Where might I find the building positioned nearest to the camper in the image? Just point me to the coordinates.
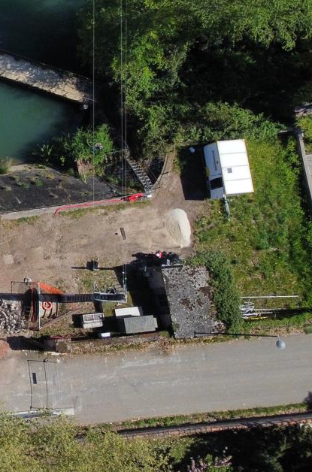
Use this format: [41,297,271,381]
[141,263,224,339]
